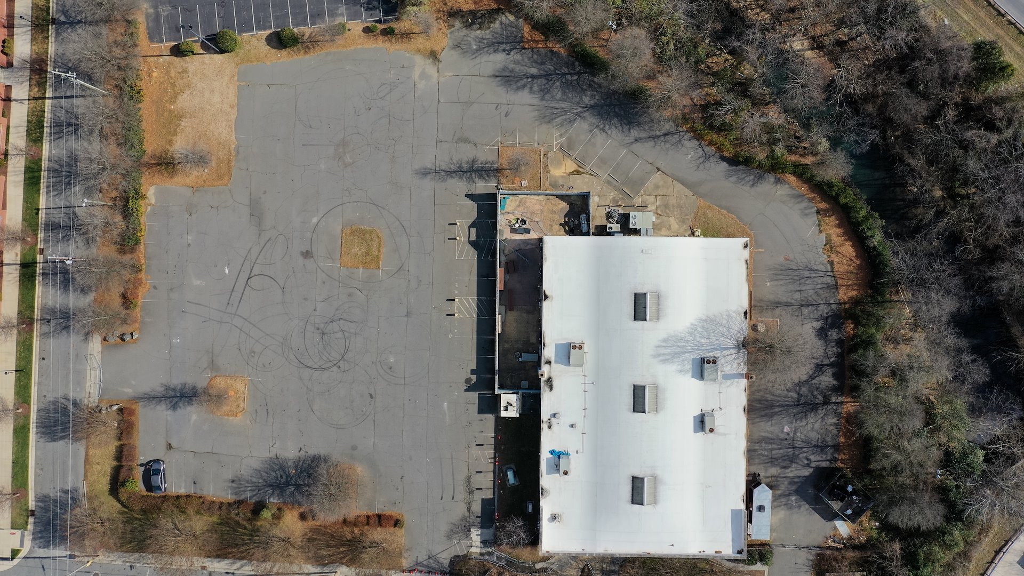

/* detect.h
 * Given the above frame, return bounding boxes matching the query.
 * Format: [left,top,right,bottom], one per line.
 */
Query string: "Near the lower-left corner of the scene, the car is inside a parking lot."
[147,460,165,493]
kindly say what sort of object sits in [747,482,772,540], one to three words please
shed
